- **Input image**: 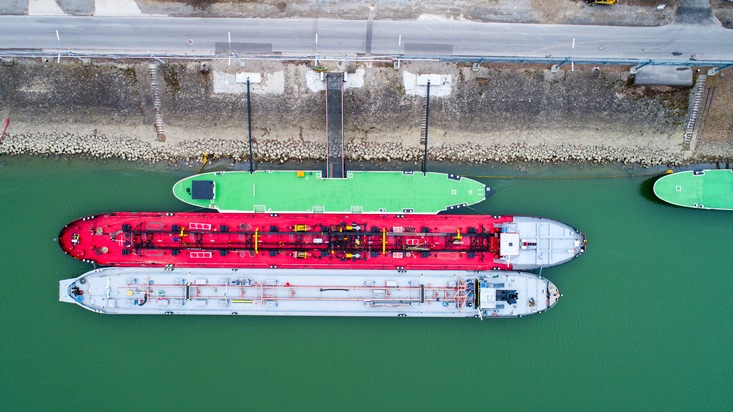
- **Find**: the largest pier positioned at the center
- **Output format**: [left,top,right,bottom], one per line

[173,171,495,213]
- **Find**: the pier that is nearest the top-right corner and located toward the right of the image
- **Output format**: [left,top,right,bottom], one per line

[649,170,733,210]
